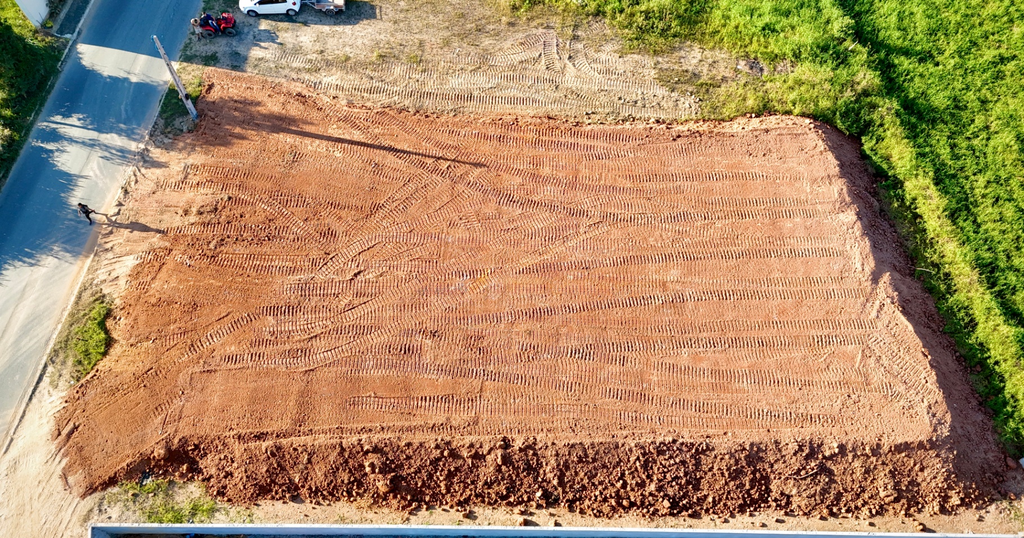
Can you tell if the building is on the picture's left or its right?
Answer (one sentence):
The building appears in the left half of the scene.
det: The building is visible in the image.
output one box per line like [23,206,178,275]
[10,0,53,31]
